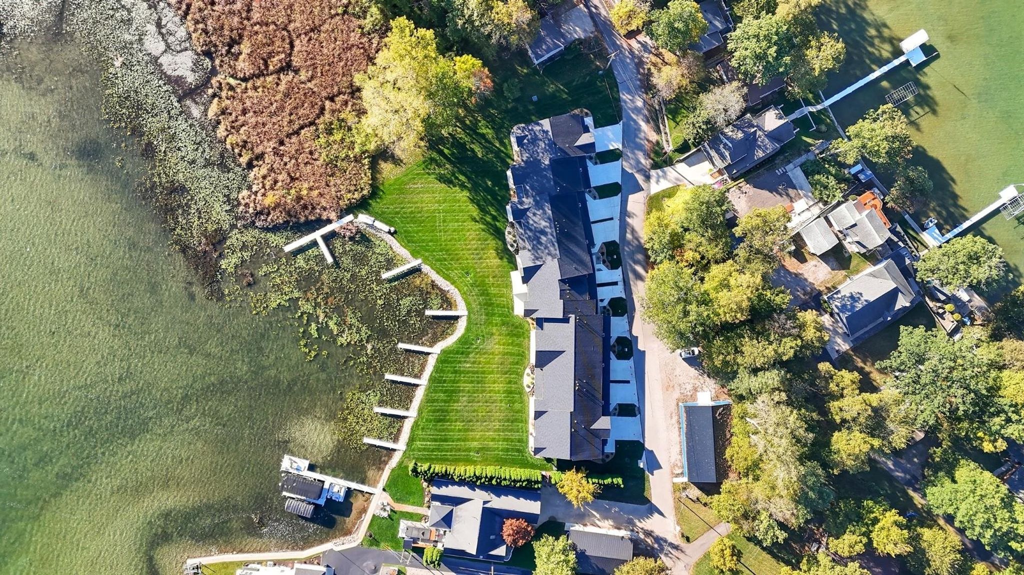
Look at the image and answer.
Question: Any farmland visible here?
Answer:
No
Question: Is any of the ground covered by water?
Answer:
Yes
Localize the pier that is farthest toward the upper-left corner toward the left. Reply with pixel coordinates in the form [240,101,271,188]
[284,214,355,264]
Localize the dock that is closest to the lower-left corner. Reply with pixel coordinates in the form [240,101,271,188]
[286,469,381,508]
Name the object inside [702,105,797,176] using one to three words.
house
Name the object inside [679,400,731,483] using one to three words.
shed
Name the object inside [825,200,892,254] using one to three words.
house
